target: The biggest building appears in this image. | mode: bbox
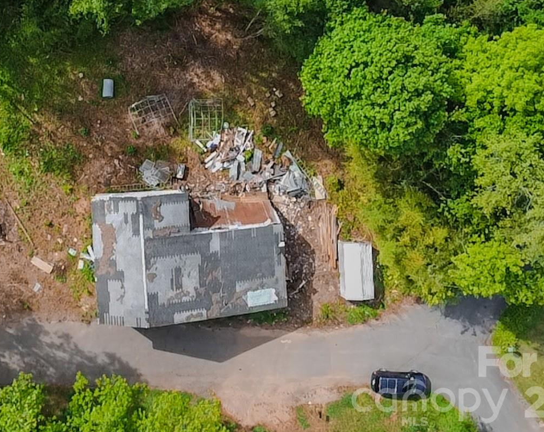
[90,190,289,333]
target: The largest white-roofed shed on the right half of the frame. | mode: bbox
[332,239,374,303]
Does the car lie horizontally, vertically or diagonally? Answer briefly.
horizontally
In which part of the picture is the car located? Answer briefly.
bottom right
